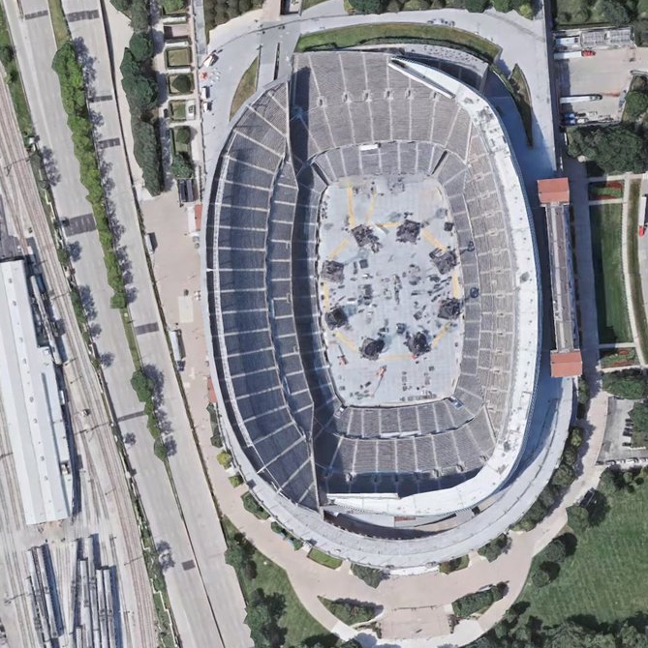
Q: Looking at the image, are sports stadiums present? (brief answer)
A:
Yes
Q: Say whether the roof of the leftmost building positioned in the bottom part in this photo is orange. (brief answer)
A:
No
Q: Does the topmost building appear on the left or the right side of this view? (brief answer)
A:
right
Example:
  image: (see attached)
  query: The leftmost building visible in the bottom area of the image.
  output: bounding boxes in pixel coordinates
[0,259,76,524]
